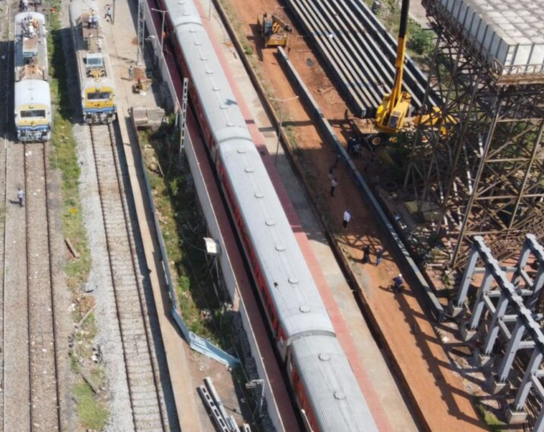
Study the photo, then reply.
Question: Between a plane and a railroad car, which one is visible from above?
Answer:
railroad car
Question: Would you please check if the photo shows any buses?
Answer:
Yes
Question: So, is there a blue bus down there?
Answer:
No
